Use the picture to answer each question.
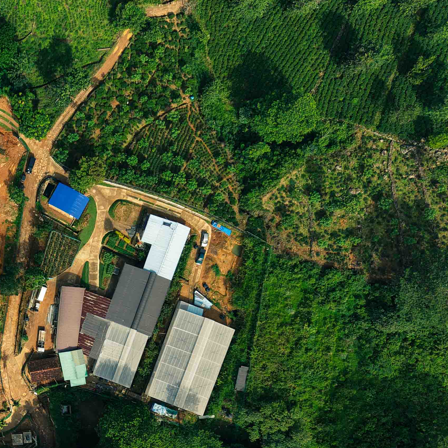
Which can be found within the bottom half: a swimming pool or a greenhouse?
greenhouse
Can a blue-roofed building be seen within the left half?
Yes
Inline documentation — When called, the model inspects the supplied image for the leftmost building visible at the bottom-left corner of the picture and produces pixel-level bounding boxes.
[28,355,64,386]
